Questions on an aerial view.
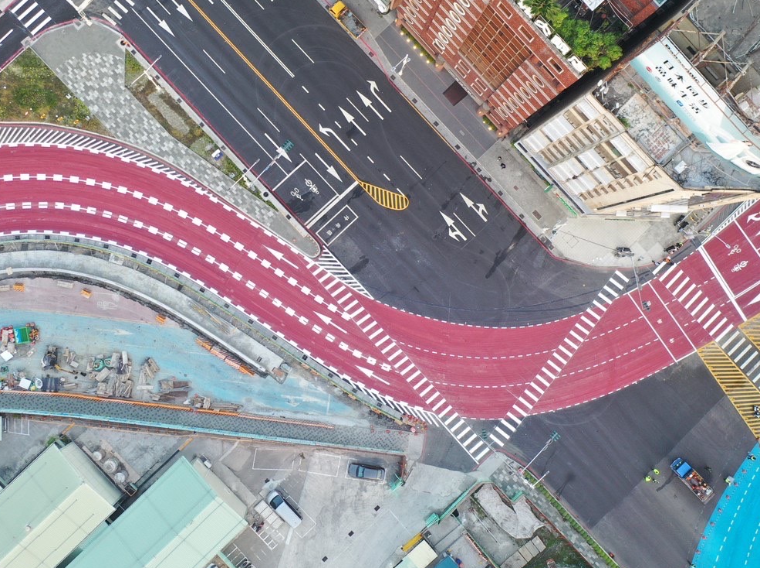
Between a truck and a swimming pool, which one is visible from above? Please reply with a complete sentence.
Looking from above, you can make out a truck.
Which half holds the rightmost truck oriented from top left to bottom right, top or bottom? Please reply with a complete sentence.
You can find the rightmost truck oriented from top left to bottom right in the bottom half.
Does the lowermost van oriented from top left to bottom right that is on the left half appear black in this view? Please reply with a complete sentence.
No, the lowermost van oriented from top left to bottom right that is on the left half is white.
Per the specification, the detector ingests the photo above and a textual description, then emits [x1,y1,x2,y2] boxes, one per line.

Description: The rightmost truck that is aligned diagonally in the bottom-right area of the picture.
[675,458,716,504]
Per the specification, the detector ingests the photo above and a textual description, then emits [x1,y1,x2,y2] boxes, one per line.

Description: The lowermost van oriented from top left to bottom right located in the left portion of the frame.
[267,490,300,531]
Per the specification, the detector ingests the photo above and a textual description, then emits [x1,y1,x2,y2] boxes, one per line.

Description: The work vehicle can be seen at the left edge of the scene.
[38,350,76,377]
